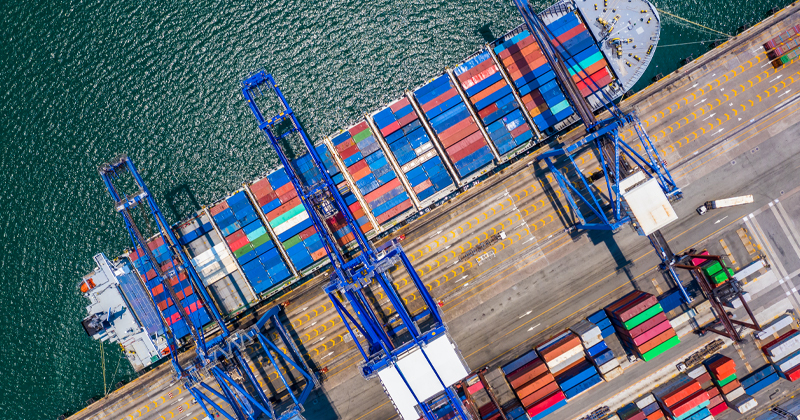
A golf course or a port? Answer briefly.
port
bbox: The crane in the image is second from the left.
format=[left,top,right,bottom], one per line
[234,66,475,420]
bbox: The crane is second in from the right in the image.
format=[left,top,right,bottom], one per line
[516,0,694,306]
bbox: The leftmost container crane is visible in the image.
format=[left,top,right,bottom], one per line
[86,151,329,420]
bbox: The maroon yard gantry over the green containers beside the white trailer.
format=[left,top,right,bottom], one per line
[671,249,767,345]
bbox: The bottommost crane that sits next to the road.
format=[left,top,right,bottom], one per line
[458,370,508,420]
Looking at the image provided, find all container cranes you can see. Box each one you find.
[86,151,329,420]
[234,66,475,420]
[458,370,508,420]
[516,0,694,306]
[671,249,767,345]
